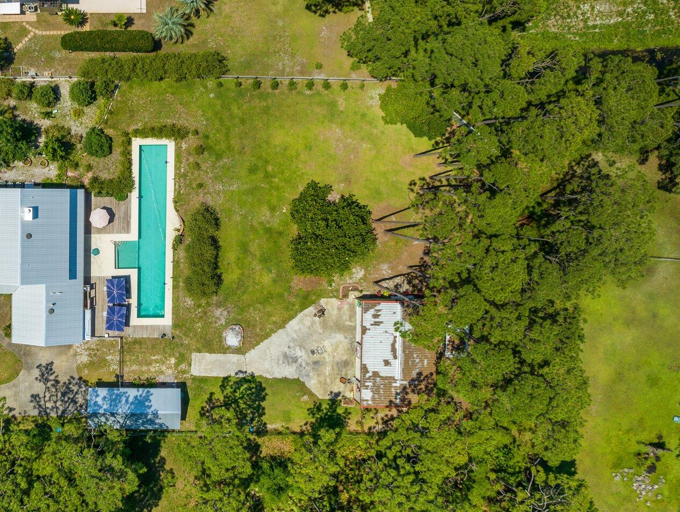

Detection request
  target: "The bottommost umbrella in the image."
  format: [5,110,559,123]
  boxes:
[105,305,127,332]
